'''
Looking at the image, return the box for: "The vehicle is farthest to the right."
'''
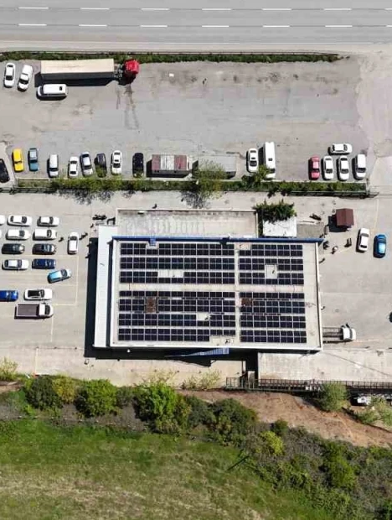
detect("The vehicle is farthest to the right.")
[374,234,387,258]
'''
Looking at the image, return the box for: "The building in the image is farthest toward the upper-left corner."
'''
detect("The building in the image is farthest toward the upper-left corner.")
[152,154,190,175]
